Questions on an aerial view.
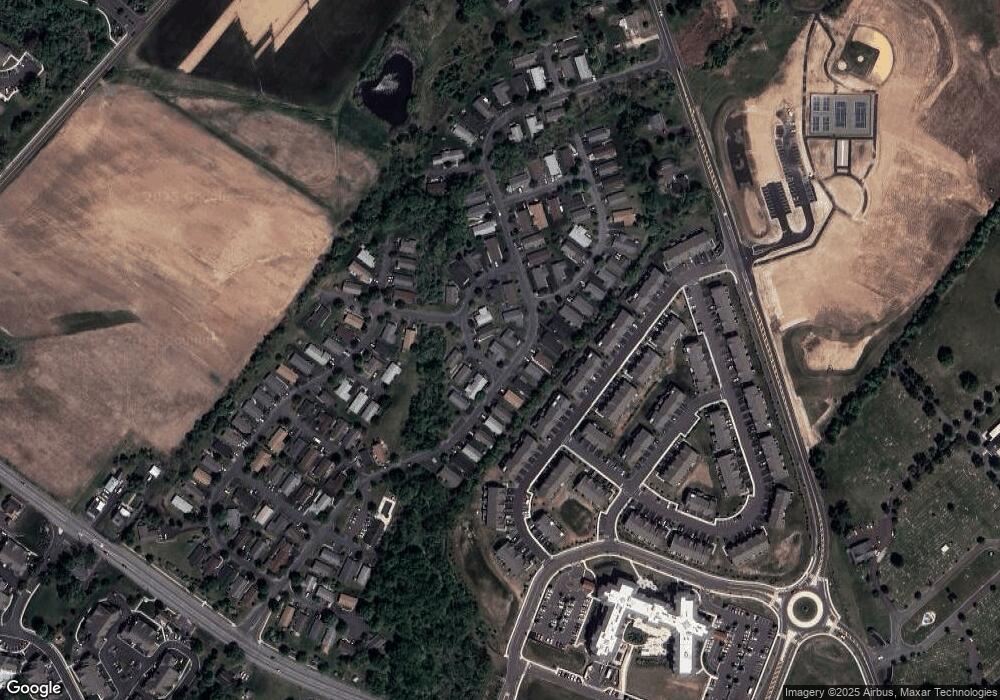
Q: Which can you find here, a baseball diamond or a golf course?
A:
baseball diamond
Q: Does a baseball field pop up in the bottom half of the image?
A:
No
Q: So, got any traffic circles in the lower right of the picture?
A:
Yes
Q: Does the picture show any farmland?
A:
Yes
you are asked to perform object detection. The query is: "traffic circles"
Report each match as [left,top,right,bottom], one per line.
[777,582,832,637]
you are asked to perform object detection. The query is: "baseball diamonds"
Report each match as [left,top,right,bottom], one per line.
[833,25,894,85]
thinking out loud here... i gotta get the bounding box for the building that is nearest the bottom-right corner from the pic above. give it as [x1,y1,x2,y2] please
[849,541,875,565]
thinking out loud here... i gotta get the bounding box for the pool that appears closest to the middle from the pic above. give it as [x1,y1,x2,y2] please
[378,497,395,526]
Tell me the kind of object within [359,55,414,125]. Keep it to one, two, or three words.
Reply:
pond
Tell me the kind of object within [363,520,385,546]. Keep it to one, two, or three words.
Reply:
building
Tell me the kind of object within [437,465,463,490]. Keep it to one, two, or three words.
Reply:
house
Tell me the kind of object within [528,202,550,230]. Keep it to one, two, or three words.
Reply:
house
